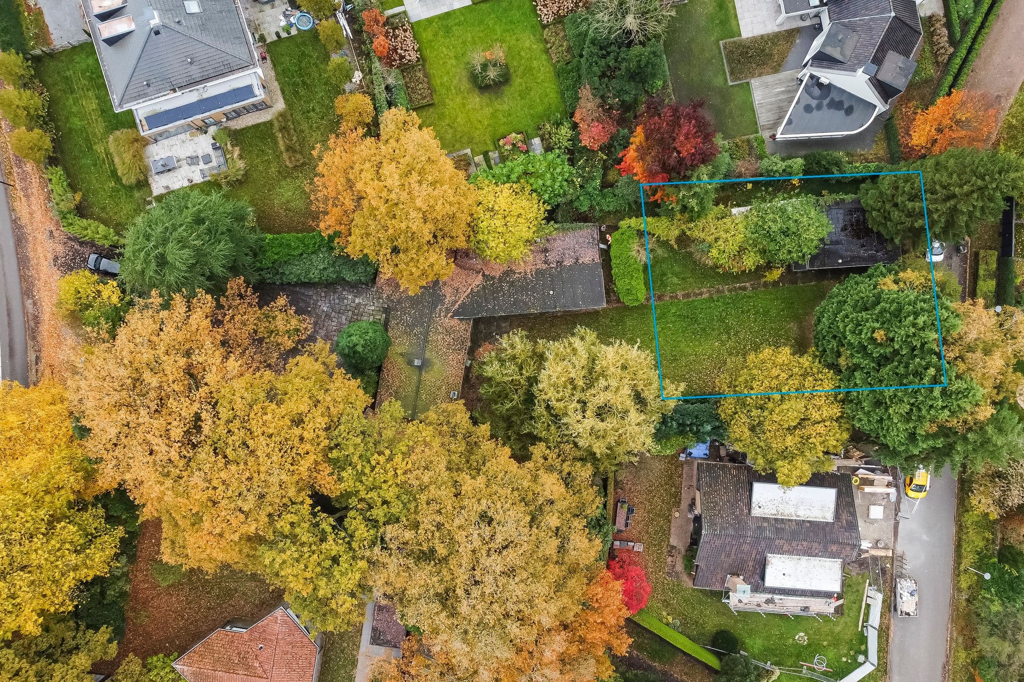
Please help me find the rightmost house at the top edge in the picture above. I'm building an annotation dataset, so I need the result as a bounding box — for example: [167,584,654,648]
[771,0,924,144]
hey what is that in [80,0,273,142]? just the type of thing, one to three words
house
